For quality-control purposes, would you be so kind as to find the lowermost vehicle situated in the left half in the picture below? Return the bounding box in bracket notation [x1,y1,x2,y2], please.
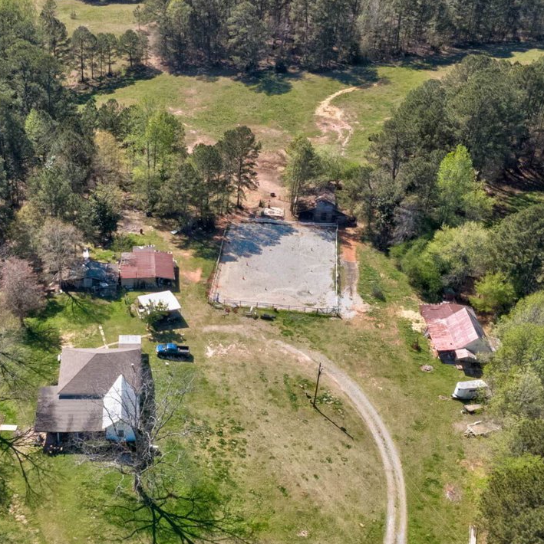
[157,346,192,361]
